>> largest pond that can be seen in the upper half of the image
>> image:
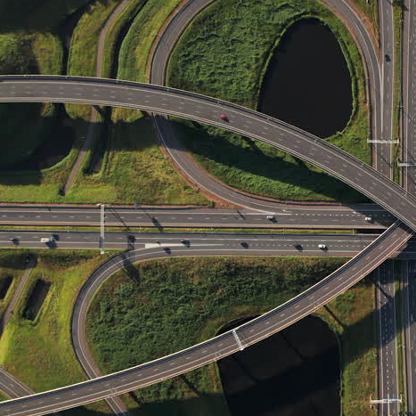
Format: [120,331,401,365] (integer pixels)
[256,14,354,139]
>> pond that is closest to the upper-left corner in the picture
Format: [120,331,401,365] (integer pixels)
[24,107,76,170]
